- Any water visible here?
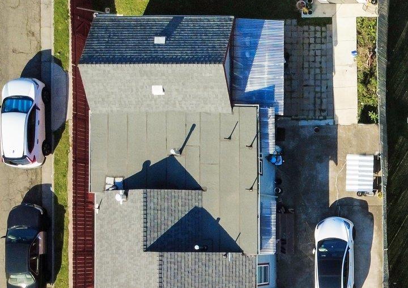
No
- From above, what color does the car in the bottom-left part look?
black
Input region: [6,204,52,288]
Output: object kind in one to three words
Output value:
car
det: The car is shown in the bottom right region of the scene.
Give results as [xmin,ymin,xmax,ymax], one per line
[313,217,357,288]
